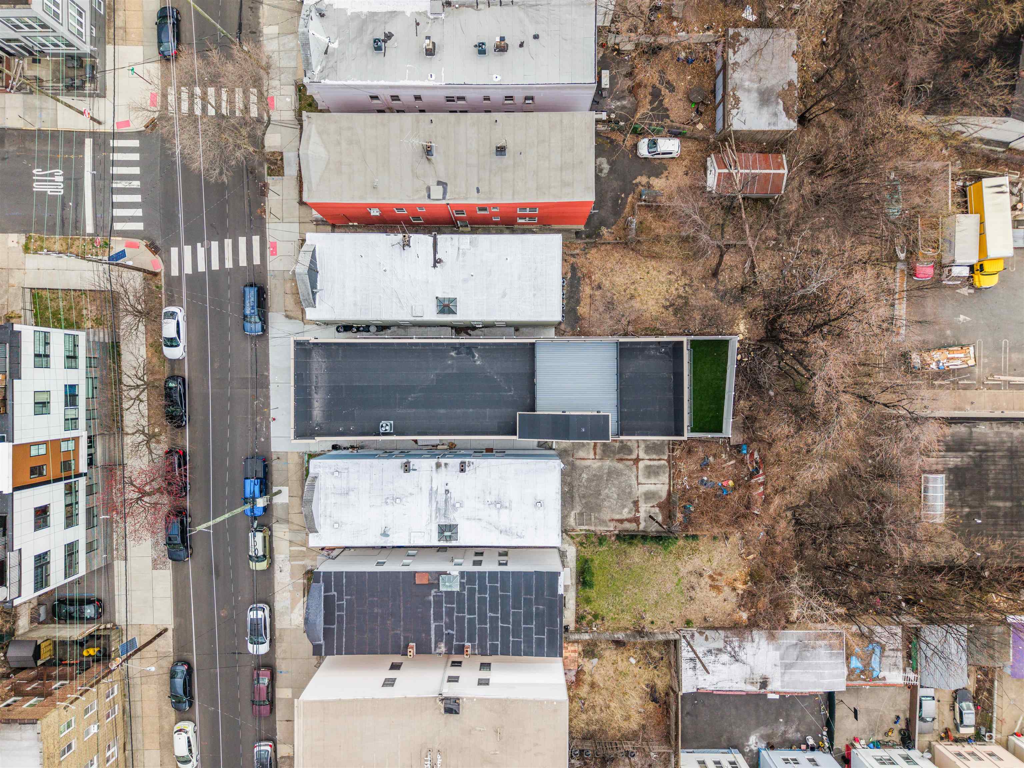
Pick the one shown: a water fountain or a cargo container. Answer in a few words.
cargo container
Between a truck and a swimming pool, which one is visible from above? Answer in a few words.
truck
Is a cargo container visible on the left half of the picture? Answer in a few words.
No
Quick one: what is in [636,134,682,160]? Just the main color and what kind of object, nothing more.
white car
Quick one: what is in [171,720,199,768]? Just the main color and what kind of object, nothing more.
white car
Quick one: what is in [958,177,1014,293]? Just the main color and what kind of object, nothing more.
white truck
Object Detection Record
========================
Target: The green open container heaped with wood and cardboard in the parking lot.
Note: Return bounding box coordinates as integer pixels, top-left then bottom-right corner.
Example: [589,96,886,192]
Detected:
[906,344,980,372]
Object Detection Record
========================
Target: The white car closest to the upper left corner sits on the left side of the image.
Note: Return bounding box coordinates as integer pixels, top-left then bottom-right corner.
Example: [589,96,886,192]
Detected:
[160,306,188,359]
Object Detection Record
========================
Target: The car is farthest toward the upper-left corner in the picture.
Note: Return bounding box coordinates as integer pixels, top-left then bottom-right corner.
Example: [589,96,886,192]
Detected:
[155,7,183,61]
